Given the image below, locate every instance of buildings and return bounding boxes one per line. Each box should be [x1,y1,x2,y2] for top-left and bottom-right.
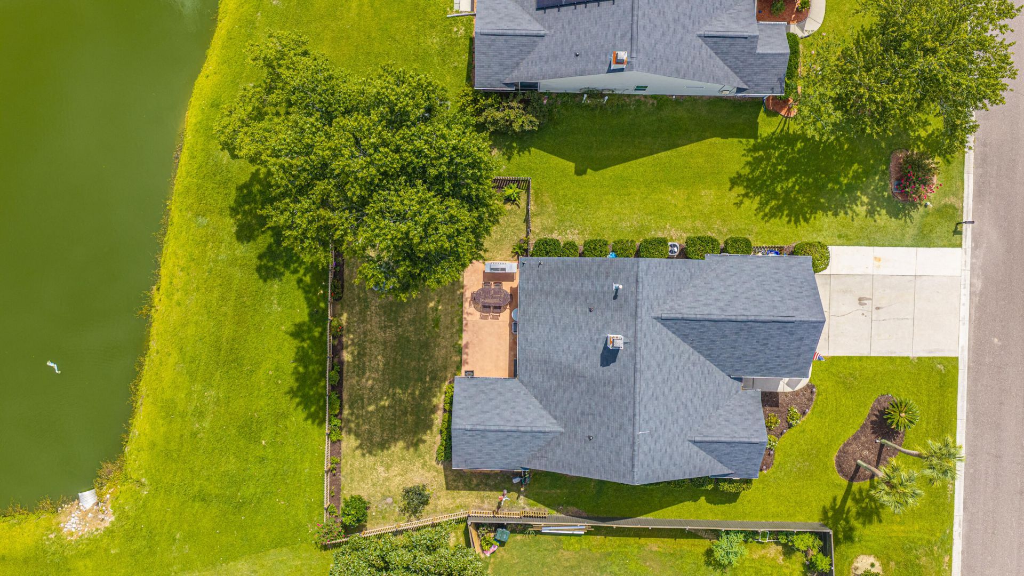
[474,0,791,100]
[451,253,827,485]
